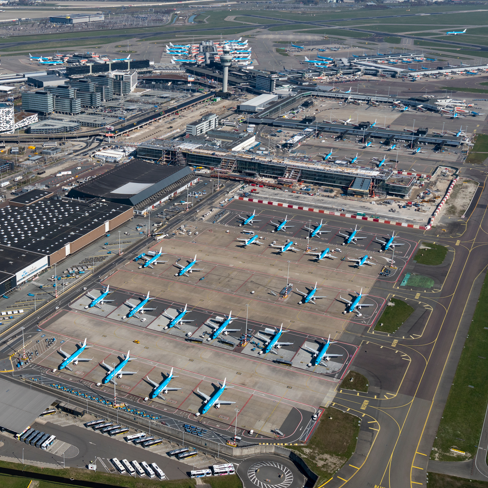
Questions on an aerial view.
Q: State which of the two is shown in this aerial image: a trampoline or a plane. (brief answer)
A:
plane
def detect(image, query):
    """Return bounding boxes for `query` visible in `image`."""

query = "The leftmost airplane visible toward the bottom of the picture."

[59,339,95,369]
